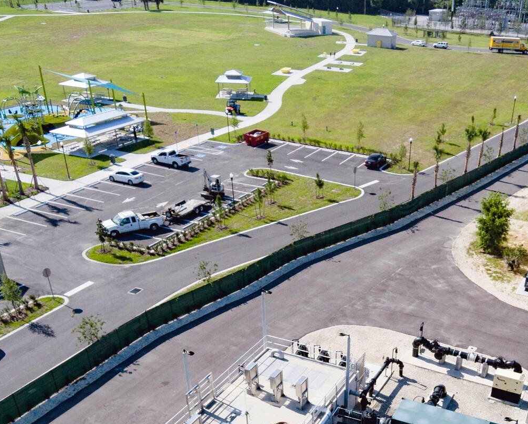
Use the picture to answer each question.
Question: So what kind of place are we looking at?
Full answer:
It's an industrial area.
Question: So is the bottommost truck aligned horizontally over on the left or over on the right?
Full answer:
You can find the bottommost truck aligned horizontally on the left side of the picture.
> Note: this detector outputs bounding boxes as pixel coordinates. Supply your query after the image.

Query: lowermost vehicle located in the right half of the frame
[368,155,393,168]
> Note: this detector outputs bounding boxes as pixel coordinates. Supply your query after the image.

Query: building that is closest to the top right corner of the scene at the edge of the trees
[424,6,452,23]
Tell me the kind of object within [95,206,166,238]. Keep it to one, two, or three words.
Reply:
truck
